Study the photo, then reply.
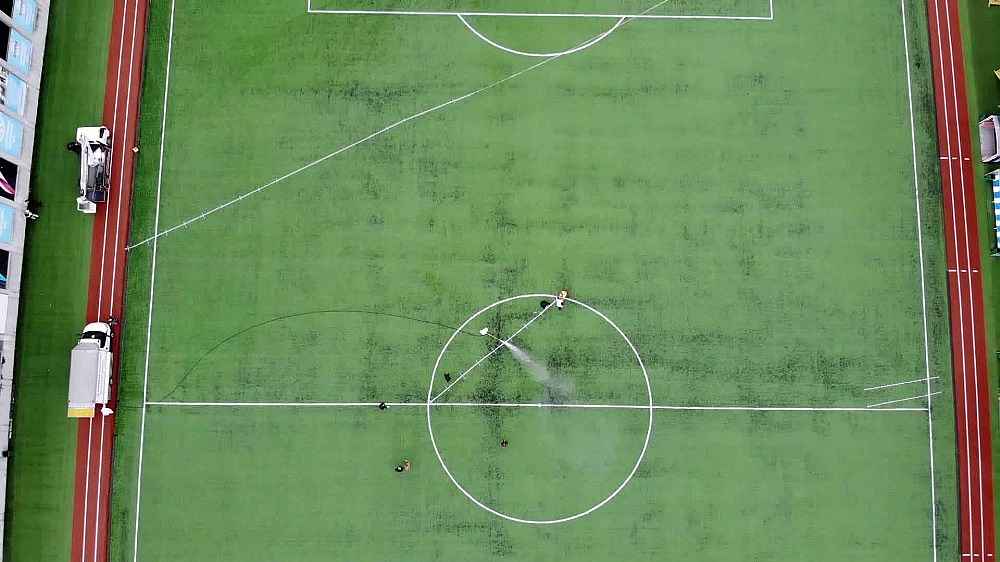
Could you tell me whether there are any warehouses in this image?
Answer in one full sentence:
No, this view has no warehouse in it.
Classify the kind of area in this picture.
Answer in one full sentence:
This image shows a sports ground.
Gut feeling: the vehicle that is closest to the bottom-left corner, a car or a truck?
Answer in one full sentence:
It looks like the vehicle that is closest to the bottom-left corner is a truck.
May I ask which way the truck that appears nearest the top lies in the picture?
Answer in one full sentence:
The truck that appears nearest the top has been laid out from top to bottom relative to the frame.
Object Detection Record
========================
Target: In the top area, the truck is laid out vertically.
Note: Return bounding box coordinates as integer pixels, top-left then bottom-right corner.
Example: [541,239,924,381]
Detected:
[75,128,113,212]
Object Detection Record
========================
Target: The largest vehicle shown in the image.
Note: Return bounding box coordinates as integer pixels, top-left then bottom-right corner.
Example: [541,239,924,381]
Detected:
[67,322,116,418]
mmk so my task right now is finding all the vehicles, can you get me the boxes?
[67,322,116,418]
[75,128,113,212]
